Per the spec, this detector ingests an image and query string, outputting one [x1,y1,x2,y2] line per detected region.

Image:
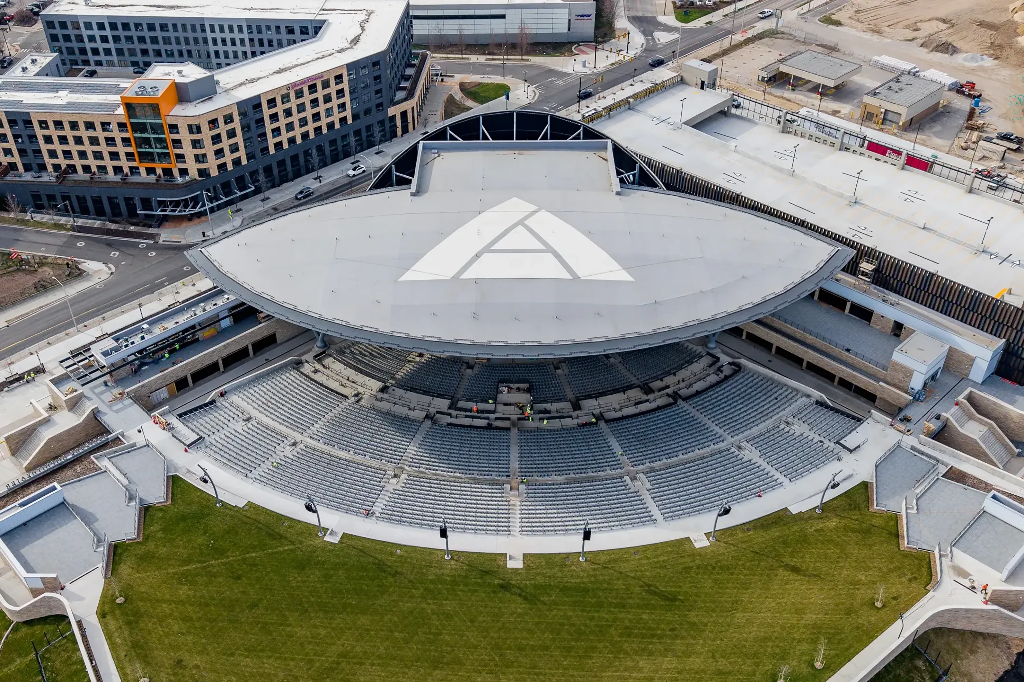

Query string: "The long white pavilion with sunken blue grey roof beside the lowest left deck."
[0,481,68,539]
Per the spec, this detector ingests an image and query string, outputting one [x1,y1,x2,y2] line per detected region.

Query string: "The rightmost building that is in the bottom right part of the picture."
[979,489,1024,542]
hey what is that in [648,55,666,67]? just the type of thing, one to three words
vehicle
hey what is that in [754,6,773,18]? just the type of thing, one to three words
vehicle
